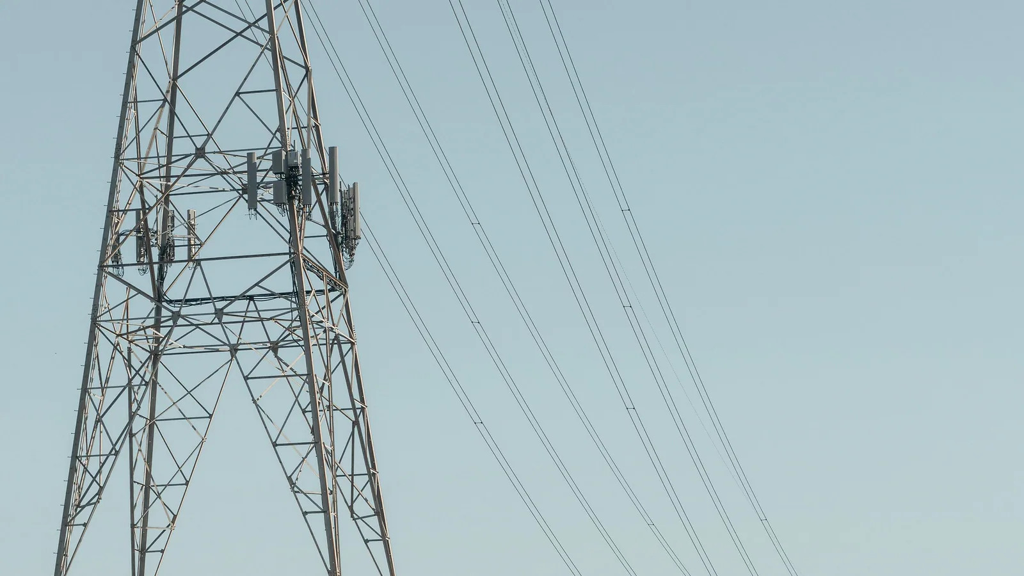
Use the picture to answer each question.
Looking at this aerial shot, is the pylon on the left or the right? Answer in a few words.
left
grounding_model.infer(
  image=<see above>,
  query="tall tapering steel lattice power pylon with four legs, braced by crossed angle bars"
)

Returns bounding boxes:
[51,0,396,576]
